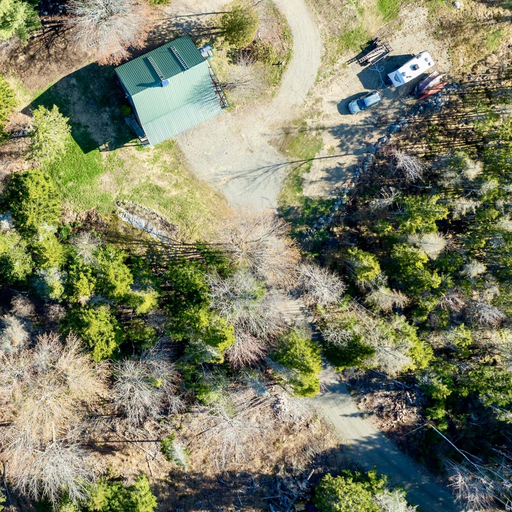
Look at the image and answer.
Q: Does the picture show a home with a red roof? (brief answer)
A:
No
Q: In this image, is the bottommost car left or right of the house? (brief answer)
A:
to the right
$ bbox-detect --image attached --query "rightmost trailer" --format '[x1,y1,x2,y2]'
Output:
[381,50,435,87]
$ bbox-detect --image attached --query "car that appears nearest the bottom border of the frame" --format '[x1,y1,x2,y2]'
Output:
[348,91,381,113]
